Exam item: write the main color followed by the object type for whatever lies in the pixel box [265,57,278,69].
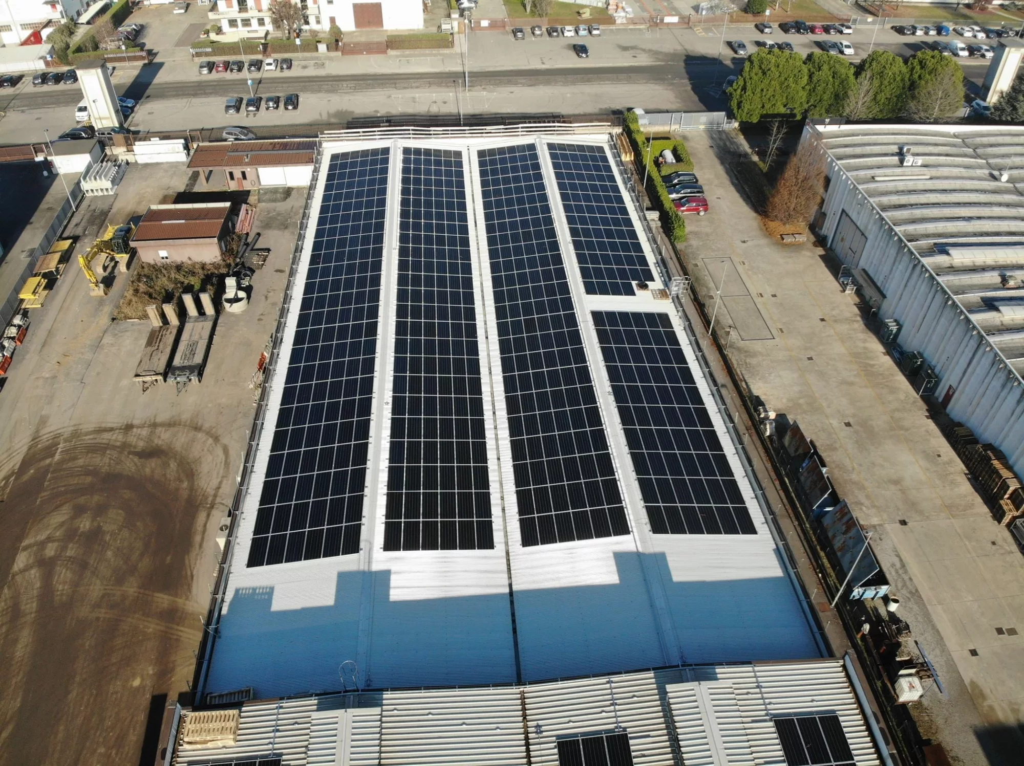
white vehicle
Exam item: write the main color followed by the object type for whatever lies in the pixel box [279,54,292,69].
gray vehicle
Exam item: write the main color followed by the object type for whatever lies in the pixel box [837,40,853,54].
white car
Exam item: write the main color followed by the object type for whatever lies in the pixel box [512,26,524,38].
gray vehicle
